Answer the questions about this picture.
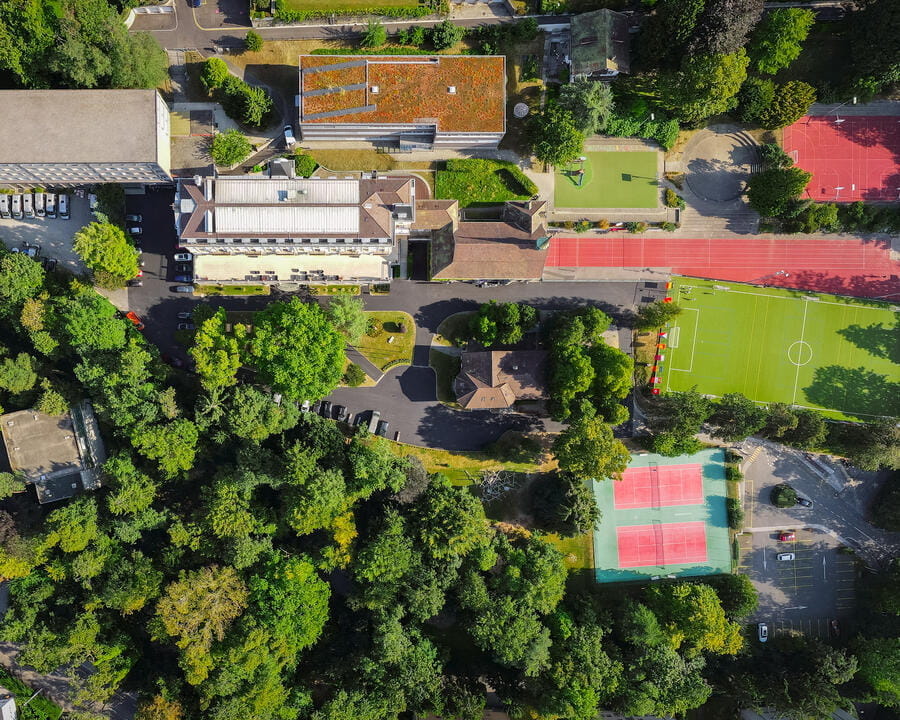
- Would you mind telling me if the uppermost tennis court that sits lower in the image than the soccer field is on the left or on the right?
right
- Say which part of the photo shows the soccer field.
right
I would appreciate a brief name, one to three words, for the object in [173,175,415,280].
building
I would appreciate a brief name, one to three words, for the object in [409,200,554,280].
building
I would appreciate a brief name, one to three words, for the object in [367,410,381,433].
vehicle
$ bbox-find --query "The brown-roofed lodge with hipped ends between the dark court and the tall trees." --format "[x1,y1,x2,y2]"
[456,351,549,412]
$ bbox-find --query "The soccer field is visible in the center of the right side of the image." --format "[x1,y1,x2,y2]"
[652,277,900,423]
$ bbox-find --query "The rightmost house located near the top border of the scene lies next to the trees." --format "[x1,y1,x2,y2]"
[566,8,629,82]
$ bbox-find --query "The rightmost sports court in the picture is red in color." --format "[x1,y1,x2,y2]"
[784,116,900,203]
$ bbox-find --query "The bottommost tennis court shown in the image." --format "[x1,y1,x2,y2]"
[617,521,708,569]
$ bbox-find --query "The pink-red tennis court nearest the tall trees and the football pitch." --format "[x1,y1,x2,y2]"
[613,464,703,510]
